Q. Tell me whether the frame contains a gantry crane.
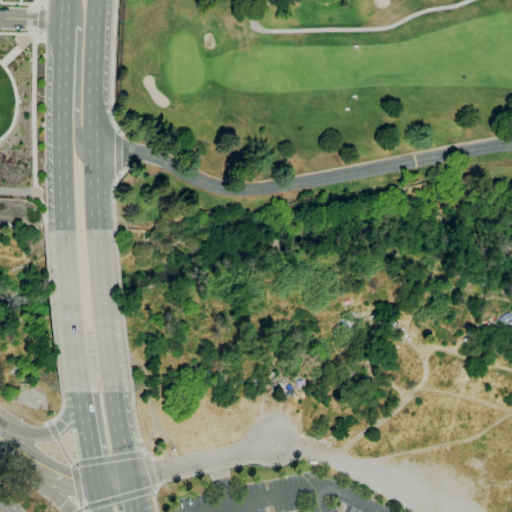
No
